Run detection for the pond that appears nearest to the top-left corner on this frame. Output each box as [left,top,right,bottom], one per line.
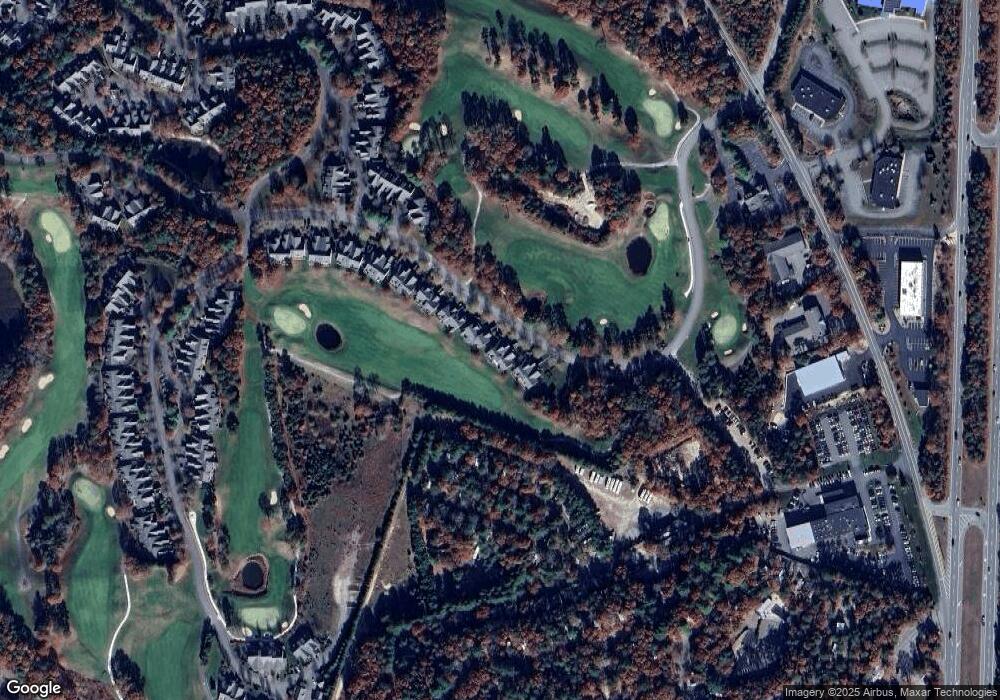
[152,146,223,190]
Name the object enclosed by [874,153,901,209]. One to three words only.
building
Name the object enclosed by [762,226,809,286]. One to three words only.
house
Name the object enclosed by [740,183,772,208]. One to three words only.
house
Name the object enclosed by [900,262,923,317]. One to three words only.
building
